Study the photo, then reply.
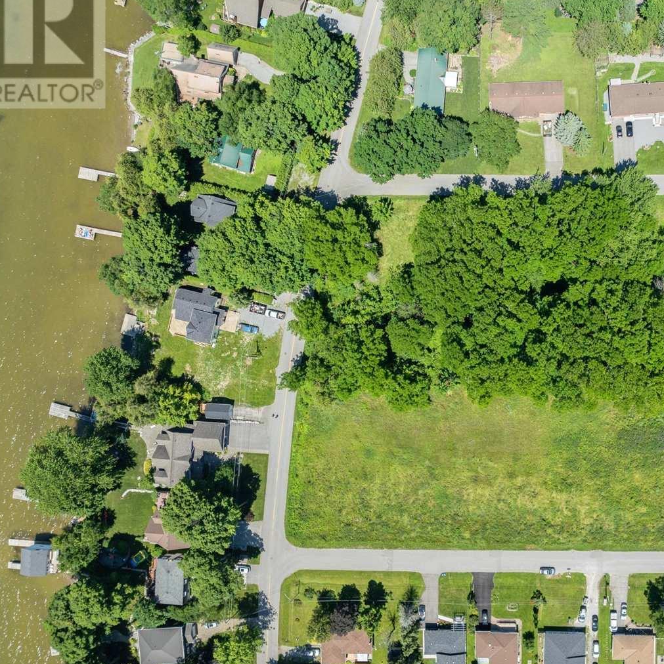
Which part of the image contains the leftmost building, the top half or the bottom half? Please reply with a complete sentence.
It is in the bottom half that the leftmost building appears.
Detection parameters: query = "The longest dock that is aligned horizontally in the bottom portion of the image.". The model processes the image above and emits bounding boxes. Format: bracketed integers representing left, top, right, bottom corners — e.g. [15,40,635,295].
[48,402,107,423]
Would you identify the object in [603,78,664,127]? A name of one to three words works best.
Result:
house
